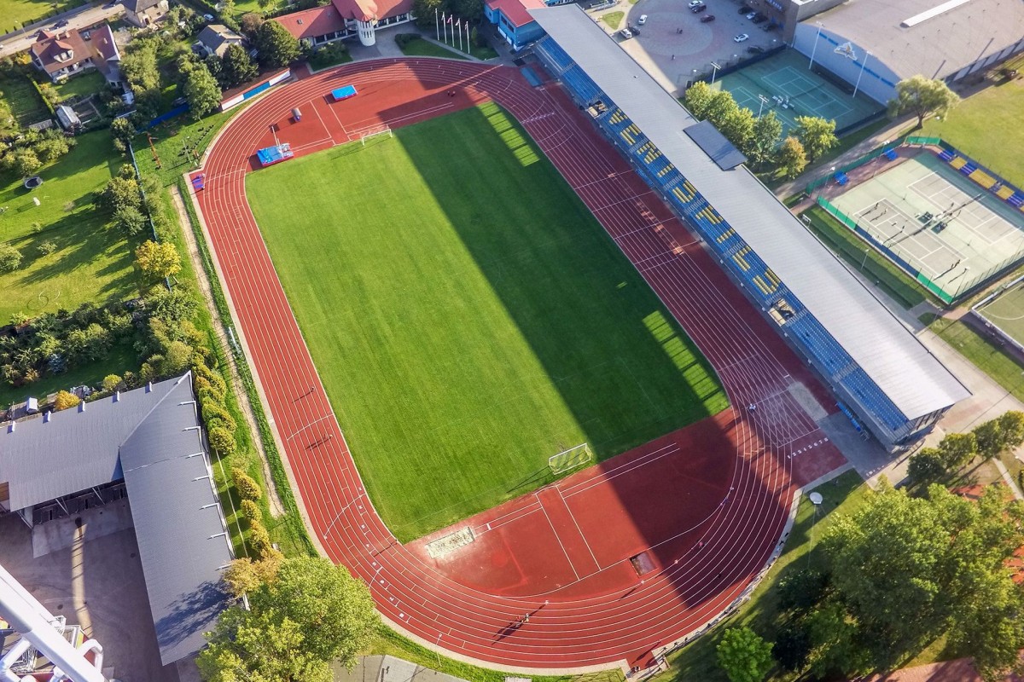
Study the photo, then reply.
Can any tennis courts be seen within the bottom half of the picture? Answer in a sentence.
No, the scene shows no tennis court within the bottom half of the picture.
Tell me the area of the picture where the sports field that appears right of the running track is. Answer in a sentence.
The sports field that appears right of the running track is located in the right region of the scene.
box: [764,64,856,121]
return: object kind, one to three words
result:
tennis court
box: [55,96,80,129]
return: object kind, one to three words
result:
greenhouse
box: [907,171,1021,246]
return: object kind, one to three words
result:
tennis court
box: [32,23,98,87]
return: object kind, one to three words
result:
house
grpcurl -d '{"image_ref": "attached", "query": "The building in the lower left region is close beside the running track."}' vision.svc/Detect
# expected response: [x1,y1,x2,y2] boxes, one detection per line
[0,369,247,663]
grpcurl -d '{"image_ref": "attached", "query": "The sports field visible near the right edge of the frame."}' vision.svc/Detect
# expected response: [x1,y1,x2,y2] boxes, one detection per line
[973,277,1024,347]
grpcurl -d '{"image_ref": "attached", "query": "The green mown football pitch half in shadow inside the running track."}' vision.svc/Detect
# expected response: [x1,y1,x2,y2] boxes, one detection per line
[245,100,730,543]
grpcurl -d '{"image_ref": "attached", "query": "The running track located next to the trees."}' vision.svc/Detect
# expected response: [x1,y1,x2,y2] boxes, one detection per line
[199,57,847,670]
